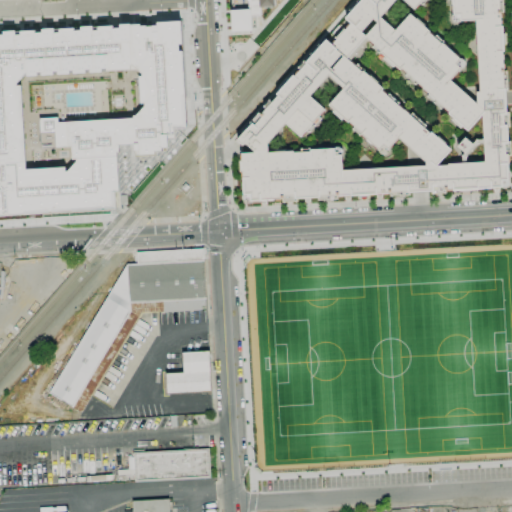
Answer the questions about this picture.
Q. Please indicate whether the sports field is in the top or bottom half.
bottom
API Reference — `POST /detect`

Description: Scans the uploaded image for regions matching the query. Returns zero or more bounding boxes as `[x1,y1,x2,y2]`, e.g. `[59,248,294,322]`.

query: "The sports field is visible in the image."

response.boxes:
[250,246,512,470]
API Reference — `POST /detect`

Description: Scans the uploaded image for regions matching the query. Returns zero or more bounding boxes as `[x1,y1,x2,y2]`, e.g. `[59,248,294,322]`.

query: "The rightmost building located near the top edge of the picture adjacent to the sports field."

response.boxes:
[237,0,512,203]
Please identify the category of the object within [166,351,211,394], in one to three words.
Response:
building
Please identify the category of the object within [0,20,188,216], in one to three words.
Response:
building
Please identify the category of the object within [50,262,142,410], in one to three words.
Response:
shed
